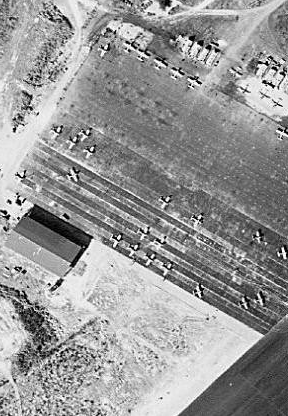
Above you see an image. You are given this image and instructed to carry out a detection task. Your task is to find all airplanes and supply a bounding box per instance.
[80,129,90,139]
[155,59,166,70]
[188,79,200,89]
[193,213,202,223]
[145,254,154,264]
[68,137,76,147]
[276,247,287,260]
[112,235,121,245]
[139,228,148,238]
[252,293,263,305]
[99,44,107,54]
[161,197,169,207]
[155,236,164,246]
[259,92,269,101]
[67,169,78,181]
[85,146,93,156]
[129,244,137,254]
[171,69,183,80]
[51,126,59,137]
[251,230,261,244]
[163,263,170,273]
[16,170,25,180]
[238,297,248,309]
[124,42,136,53]
[137,50,149,61]
[277,130,288,140]
[239,88,249,97]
